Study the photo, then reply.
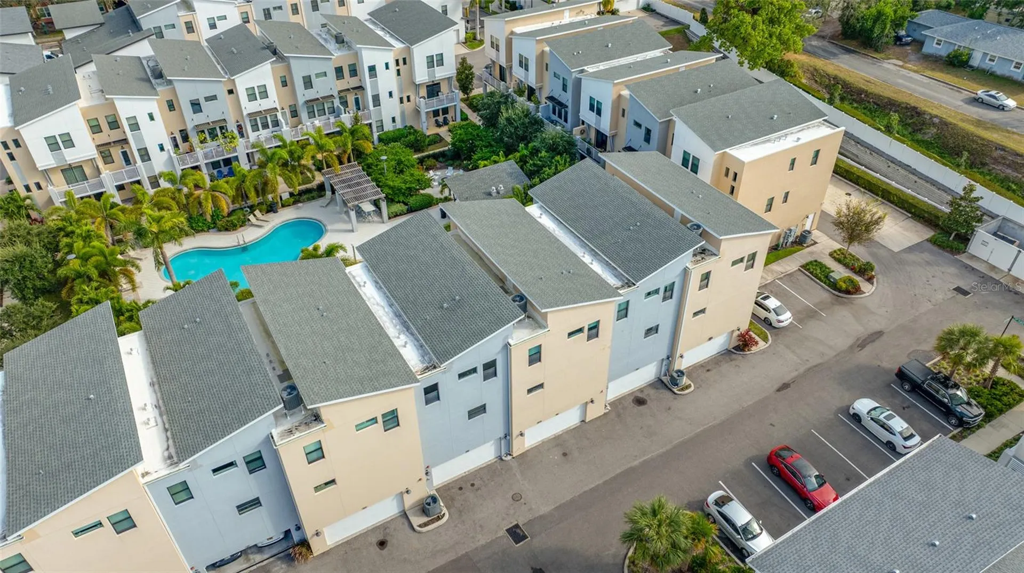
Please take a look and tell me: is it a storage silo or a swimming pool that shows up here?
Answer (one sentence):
The image shows a swimming pool.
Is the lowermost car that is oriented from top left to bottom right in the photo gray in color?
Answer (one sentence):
Yes, the lowermost car that is oriented from top left to bottom right appears gray.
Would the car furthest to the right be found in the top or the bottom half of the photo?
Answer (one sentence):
You can find the car furthest to the right in the top half.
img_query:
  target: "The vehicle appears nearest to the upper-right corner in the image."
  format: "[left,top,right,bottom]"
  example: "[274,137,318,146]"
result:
[975,88,1019,109]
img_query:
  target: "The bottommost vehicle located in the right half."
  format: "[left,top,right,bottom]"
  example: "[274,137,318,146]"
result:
[704,490,773,558]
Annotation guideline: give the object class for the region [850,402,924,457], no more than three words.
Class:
car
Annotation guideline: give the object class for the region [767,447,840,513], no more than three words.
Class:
car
